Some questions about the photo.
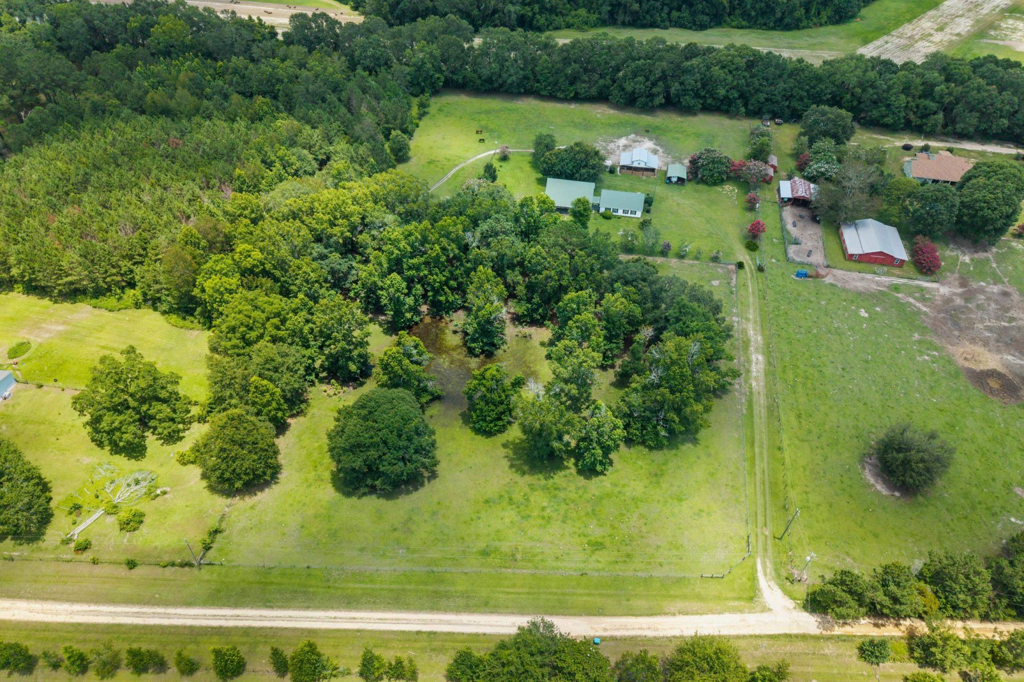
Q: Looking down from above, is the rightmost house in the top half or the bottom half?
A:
top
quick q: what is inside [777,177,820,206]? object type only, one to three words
barn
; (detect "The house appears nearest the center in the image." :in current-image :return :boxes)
[542,172,644,217]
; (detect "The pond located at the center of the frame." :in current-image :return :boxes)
[409,317,545,427]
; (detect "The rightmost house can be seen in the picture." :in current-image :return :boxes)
[904,149,984,189]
